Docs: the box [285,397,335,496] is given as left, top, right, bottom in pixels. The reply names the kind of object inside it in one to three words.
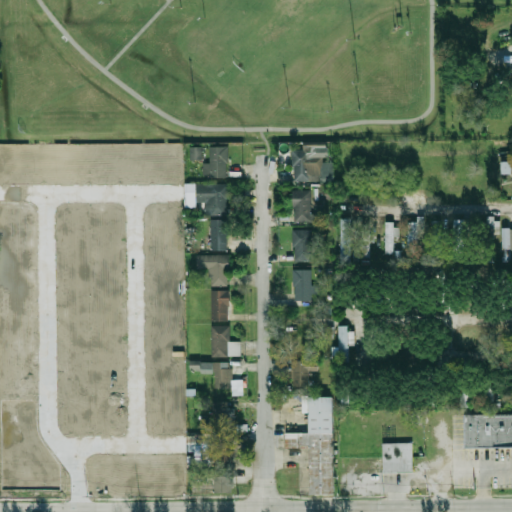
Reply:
building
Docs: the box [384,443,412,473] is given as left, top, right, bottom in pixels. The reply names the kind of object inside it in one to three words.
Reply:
building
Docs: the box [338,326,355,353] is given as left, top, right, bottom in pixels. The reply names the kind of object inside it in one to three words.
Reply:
house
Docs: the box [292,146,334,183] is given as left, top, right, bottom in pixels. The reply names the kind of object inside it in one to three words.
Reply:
house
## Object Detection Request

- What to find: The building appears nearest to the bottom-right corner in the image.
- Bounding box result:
[464,415,512,449]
